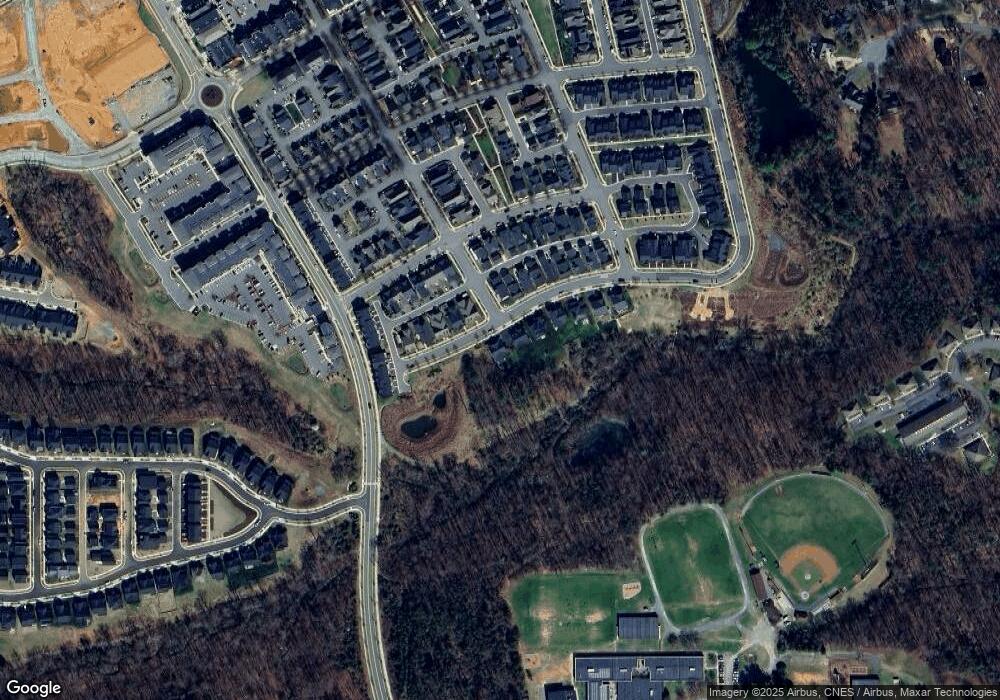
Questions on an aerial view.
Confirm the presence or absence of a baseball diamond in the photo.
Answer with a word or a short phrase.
Yes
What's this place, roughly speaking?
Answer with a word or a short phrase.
residential area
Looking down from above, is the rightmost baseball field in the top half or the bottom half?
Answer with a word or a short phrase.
bottom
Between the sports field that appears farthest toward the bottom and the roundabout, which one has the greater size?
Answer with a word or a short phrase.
the sports field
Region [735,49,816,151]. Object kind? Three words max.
pond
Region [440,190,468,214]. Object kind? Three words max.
house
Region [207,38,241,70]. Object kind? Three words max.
building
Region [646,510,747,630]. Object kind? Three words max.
sports field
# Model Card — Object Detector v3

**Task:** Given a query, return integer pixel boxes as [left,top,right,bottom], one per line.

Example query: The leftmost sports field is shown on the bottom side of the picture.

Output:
[512,573,658,652]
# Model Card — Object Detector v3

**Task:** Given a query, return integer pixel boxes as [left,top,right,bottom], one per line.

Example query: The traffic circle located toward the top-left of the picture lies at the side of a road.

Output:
[194,81,233,119]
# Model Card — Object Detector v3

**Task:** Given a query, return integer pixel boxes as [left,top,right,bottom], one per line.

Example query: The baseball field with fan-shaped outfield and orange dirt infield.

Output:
[743,473,892,609]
